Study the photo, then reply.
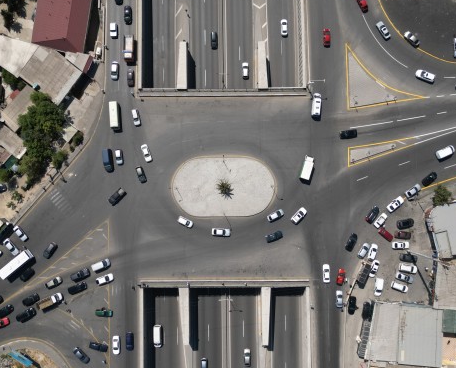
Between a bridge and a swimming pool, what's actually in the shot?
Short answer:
bridge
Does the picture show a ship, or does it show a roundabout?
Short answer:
roundabout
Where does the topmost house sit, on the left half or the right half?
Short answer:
left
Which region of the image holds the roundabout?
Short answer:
center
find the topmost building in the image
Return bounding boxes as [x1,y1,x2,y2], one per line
[31,0,96,54]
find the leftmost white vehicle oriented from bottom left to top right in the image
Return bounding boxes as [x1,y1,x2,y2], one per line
[0,248,36,281]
